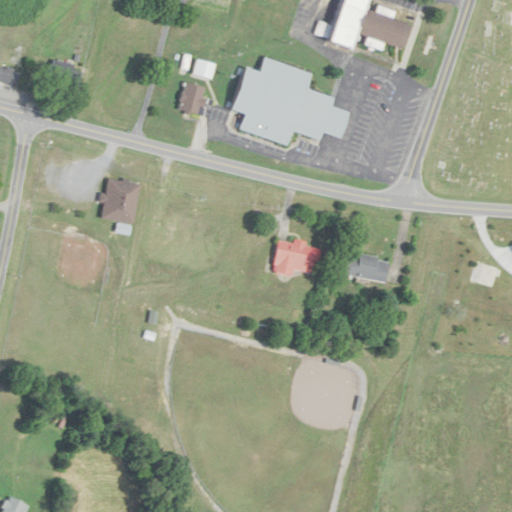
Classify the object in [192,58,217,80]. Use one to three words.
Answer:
building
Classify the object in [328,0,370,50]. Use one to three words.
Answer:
building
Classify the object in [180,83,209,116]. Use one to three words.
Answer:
house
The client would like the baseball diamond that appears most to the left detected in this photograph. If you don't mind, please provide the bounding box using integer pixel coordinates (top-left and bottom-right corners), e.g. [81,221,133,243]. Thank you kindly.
[6,231,111,372]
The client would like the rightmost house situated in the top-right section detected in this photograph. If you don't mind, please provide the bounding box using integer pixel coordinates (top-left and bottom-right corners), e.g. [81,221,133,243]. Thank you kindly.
[362,5,413,52]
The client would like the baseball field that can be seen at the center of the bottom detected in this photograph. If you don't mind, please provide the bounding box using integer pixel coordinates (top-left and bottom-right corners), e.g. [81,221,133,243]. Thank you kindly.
[172,327,360,512]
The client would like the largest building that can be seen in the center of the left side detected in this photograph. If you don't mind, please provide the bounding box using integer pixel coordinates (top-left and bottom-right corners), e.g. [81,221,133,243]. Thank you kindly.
[98,179,141,236]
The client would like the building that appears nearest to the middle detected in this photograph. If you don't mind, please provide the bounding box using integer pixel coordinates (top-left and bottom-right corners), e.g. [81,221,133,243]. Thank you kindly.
[273,239,320,276]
